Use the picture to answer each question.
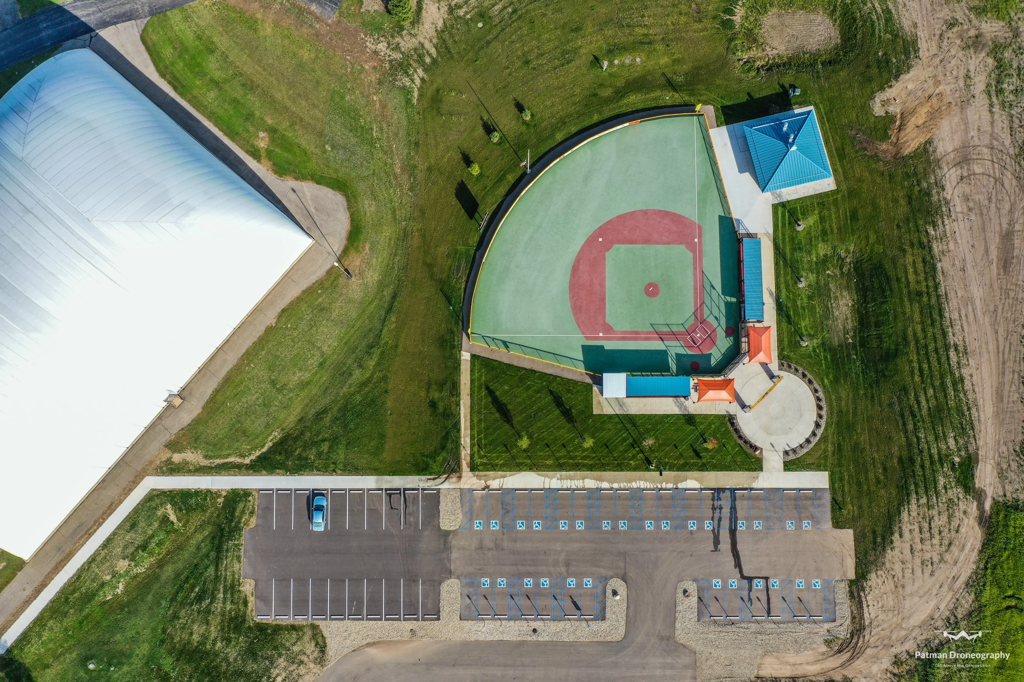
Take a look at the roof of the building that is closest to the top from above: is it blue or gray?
blue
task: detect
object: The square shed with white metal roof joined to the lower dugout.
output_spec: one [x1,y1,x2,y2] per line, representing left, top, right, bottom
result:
[602,373,627,398]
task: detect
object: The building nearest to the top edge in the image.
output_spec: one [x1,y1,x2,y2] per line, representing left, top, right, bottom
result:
[743,109,832,193]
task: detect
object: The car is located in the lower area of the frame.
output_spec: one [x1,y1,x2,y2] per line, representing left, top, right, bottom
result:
[312,497,327,530]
